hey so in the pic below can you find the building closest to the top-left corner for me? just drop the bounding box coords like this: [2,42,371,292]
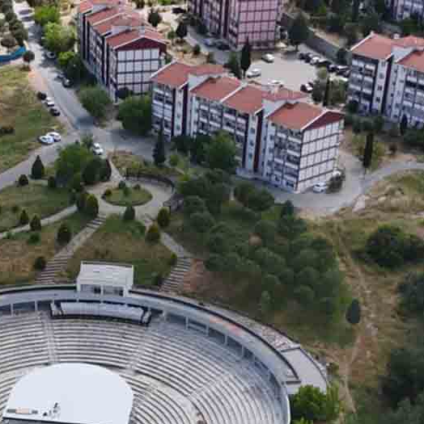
[79,0,178,103]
